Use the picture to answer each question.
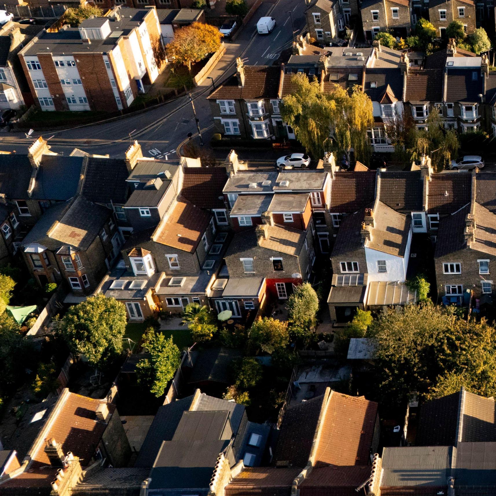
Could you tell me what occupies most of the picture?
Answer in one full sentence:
The bulk of the photo consists of buildings.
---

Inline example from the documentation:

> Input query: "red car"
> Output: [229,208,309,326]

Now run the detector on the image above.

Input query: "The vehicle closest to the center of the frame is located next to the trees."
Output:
[277,151,313,168]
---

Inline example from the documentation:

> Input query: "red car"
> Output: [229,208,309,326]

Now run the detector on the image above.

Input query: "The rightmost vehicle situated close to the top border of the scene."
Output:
[257,15,276,33]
